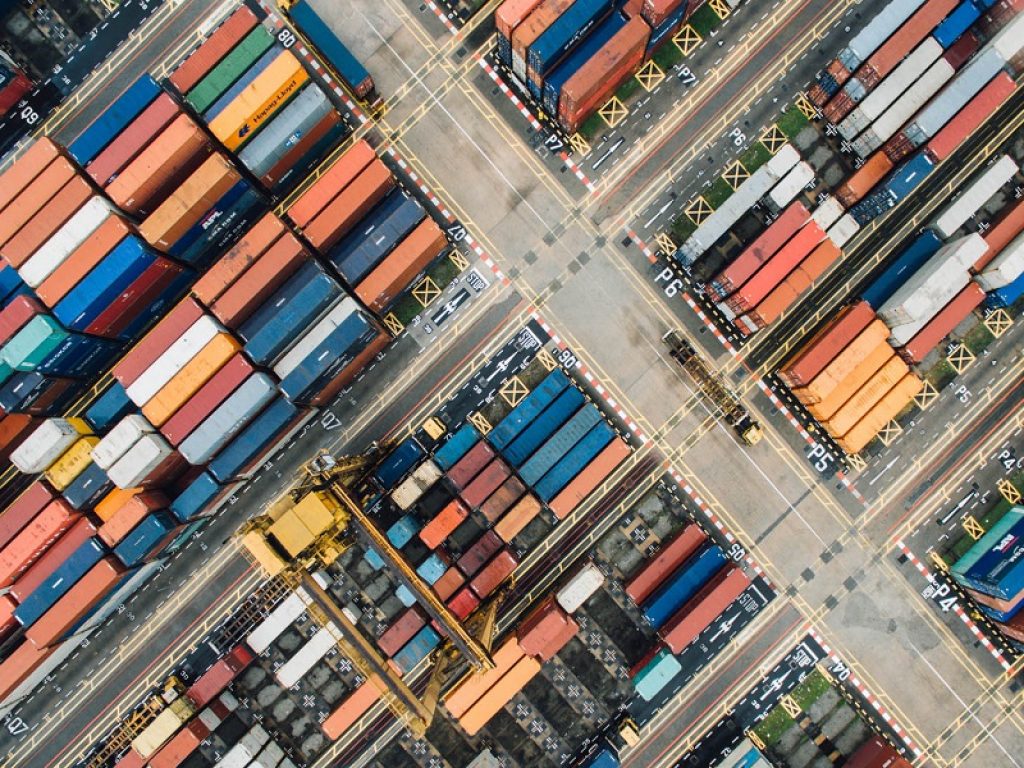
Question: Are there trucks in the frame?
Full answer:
Yes, there's a truck down there.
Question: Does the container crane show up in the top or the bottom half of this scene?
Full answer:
The container crane sits in the bottom half of the picture.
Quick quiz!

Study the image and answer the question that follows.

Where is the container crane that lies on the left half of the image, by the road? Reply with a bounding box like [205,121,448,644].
[244,443,512,744]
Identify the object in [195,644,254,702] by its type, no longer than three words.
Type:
shipping container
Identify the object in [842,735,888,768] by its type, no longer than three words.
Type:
shipping container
